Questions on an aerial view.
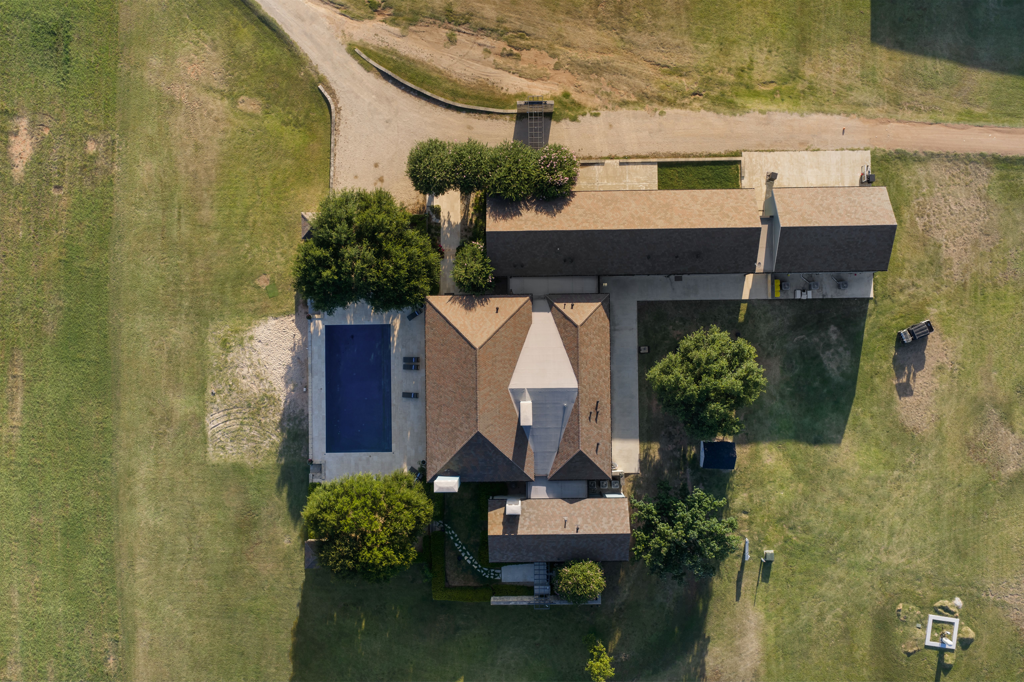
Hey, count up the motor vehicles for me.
1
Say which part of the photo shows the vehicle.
right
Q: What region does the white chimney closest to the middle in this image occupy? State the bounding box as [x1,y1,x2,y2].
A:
[520,402,532,426]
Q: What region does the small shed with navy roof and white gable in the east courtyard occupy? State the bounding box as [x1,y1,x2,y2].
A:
[700,441,737,469]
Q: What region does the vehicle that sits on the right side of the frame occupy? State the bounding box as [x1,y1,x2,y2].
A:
[898,319,934,343]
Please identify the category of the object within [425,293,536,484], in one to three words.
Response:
house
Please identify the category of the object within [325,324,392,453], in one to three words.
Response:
swimming pool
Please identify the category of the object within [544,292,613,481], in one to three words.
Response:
house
